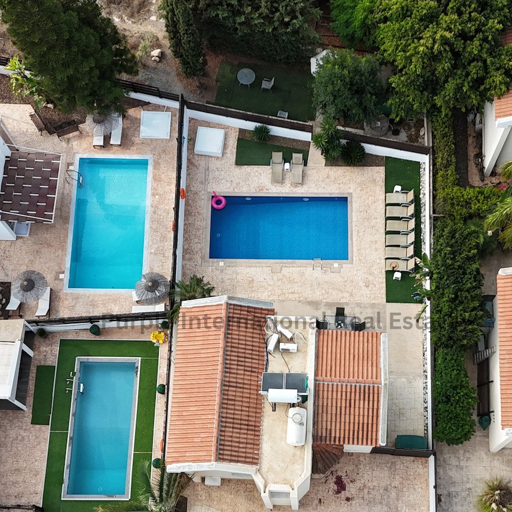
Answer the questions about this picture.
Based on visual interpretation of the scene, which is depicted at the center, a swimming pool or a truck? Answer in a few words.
swimming pool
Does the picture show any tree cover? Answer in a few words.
Yes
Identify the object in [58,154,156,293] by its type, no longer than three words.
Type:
swimming pool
